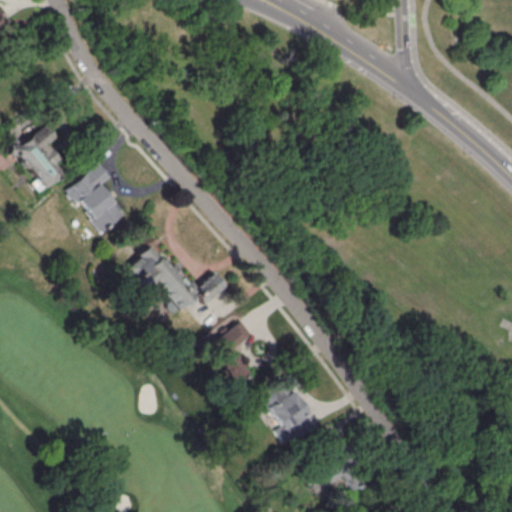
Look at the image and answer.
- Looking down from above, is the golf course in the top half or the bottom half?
bottom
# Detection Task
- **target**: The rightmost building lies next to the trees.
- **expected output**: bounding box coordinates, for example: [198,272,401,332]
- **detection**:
[330,470,366,494]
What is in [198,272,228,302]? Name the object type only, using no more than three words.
building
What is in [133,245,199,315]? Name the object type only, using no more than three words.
house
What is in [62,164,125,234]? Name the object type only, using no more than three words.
house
